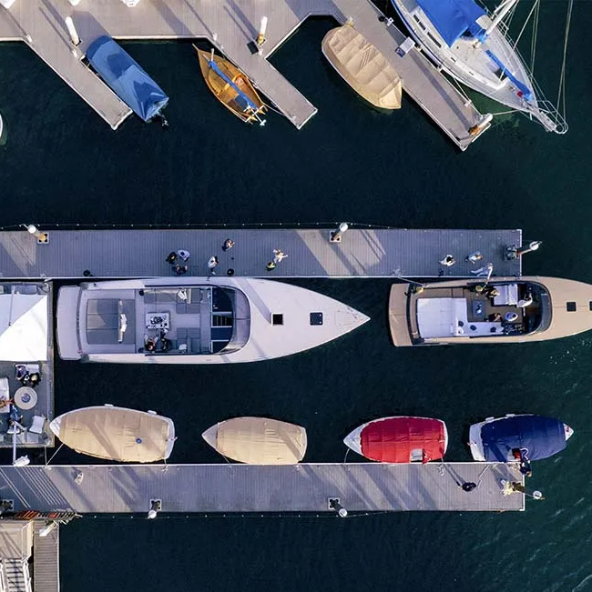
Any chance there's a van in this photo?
No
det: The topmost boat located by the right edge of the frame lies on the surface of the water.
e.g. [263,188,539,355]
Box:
[373,0,576,130]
